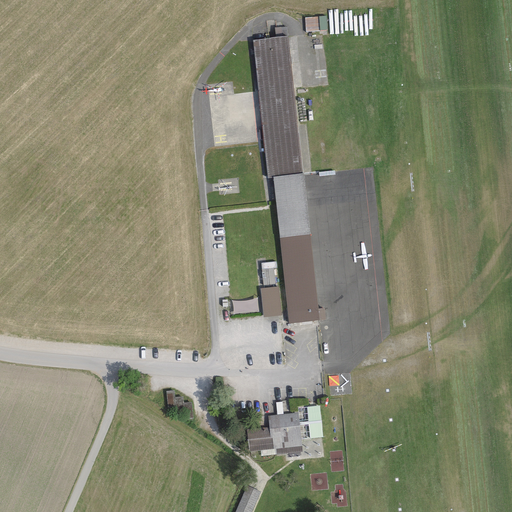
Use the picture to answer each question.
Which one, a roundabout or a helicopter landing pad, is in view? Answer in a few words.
helicopter landing pad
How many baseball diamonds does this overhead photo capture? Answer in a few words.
none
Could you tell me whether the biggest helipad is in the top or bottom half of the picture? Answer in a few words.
top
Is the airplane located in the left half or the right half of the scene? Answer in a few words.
right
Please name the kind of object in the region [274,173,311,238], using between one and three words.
hangar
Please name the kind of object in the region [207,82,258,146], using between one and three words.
helipad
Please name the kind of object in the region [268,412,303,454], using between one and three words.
house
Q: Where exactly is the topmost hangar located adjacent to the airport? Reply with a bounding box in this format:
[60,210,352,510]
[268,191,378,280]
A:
[252,36,304,176]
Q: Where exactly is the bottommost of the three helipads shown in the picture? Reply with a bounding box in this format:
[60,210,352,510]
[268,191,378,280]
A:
[206,178,240,194]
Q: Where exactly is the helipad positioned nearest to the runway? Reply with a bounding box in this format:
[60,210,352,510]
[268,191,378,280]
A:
[313,68,328,80]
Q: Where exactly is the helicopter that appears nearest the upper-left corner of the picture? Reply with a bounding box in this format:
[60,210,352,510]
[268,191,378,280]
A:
[200,82,228,102]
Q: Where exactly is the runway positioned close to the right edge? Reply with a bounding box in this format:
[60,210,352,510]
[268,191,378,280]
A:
[392,0,512,512]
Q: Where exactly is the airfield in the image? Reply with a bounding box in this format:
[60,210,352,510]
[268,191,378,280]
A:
[304,0,512,512]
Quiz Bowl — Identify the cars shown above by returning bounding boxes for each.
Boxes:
[274,387,280,399]
[193,350,198,362]
[253,33,264,38]
[276,352,282,364]
[284,336,296,344]
[272,321,276,334]
[286,386,292,398]
[212,222,224,228]
[214,244,224,248]
[176,350,182,360]
[240,402,245,411]
[214,236,224,241]
[254,401,260,412]
[224,310,230,320]
[218,281,229,286]
[153,348,158,358]
[264,402,268,414]
[324,342,328,354]
[211,214,223,220]
[283,328,295,336]
[246,354,252,366]
[212,230,225,234]
[270,354,275,364]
